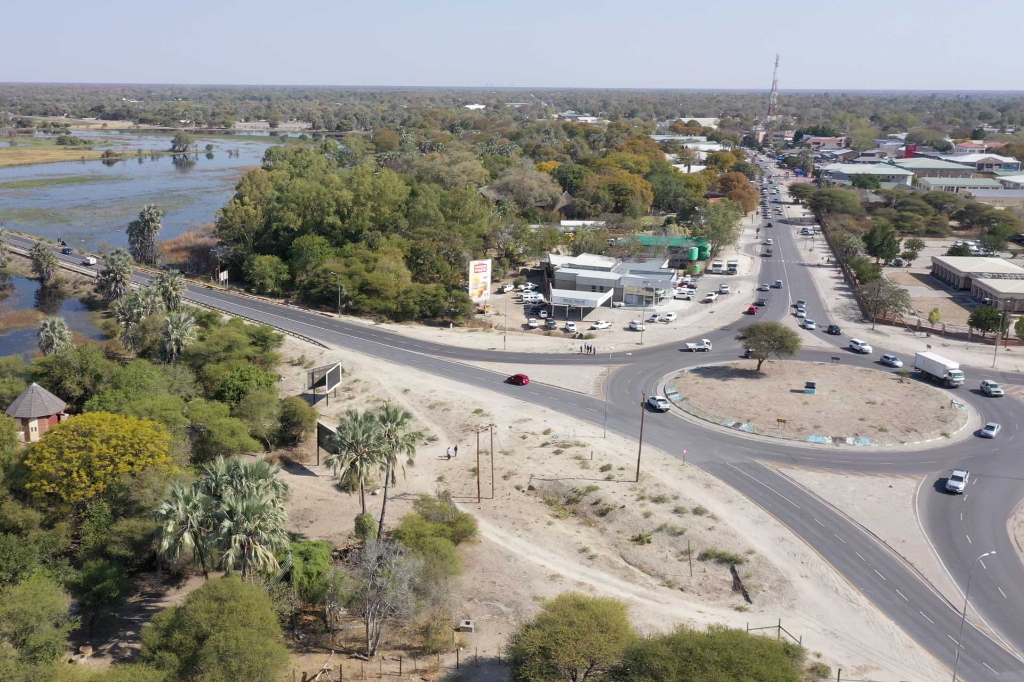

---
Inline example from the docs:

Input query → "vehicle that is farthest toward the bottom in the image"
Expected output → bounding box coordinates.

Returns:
[946,468,970,494]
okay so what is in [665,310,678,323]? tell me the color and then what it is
white vehicle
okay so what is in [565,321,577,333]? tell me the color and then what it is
white vehicle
